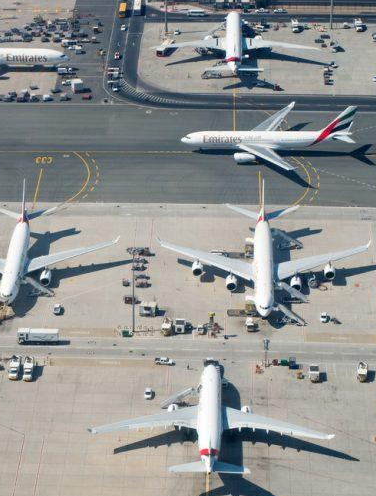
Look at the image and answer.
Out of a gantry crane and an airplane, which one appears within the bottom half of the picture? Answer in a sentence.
Looking within the bottom half of the picture, you will find an airplane.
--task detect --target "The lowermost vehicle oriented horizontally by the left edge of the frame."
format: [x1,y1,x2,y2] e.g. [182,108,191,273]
[17,328,58,344]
